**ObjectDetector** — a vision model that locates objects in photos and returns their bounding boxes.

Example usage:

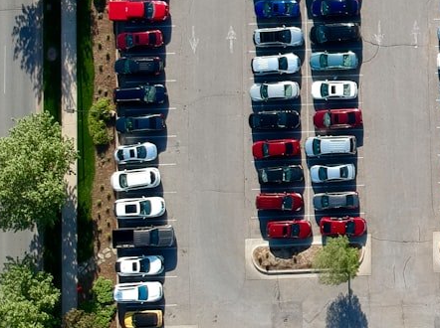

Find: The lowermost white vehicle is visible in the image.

[113,280,164,304]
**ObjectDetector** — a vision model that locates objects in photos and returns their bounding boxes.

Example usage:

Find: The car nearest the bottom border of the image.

[125,309,164,328]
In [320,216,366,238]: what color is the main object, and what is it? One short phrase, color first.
red car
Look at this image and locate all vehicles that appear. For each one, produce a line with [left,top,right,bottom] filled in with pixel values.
[113,280,164,304]
[267,219,312,241]
[258,163,303,184]
[114,196,167,219]
[314,108,363,129]
[253,24,303,47]
[112,83,168,104]
[251,81,300,103]
[255,0,300,19]
[310,22,360,45]
[118,30,164,50]
[111,169,162,191]
[253,138,301,159]
[114,53,165,75]
[311,163,355,184]
[125,309,164,328]
[110,224,175,248]
[249,108,301,131]
[116,255,165,277]
[117,112,167,134]
[312,80,358,101]
[251,51,301,74]
[313,192,359,212]
[114,143,159,163]
[311,51,359,72]
[106,0,171,22]
[306,135,356,158]
[320,216,366,238]
[256,191,303,213]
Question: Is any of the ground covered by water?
No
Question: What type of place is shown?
parking lot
